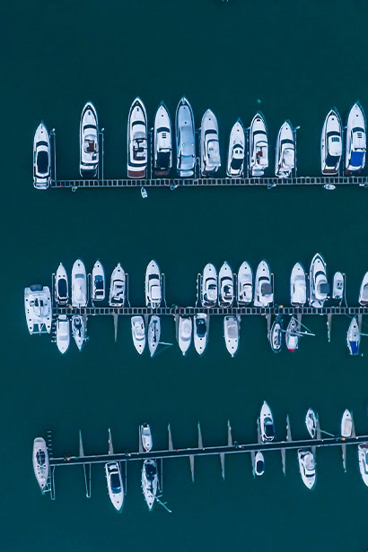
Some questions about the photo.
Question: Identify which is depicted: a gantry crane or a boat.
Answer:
boat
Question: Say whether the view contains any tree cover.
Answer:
No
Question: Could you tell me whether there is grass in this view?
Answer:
No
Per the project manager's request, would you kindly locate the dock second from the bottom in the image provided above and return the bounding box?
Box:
[50,273,368,342]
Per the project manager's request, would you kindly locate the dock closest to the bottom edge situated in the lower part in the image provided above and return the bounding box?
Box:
[49,412,368,499]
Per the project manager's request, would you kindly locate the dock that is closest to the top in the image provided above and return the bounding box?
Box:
[50,124,368,187]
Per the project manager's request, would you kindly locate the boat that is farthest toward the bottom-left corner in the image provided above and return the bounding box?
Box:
[33,436,49,494]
